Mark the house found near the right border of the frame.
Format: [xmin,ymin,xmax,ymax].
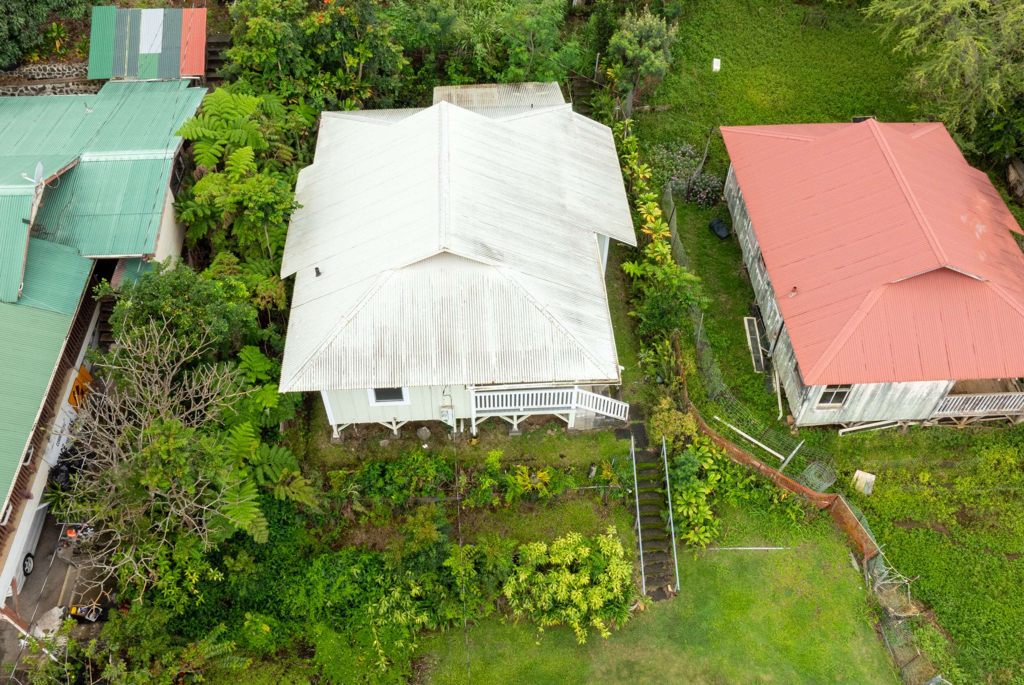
[719,117,1024,438]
